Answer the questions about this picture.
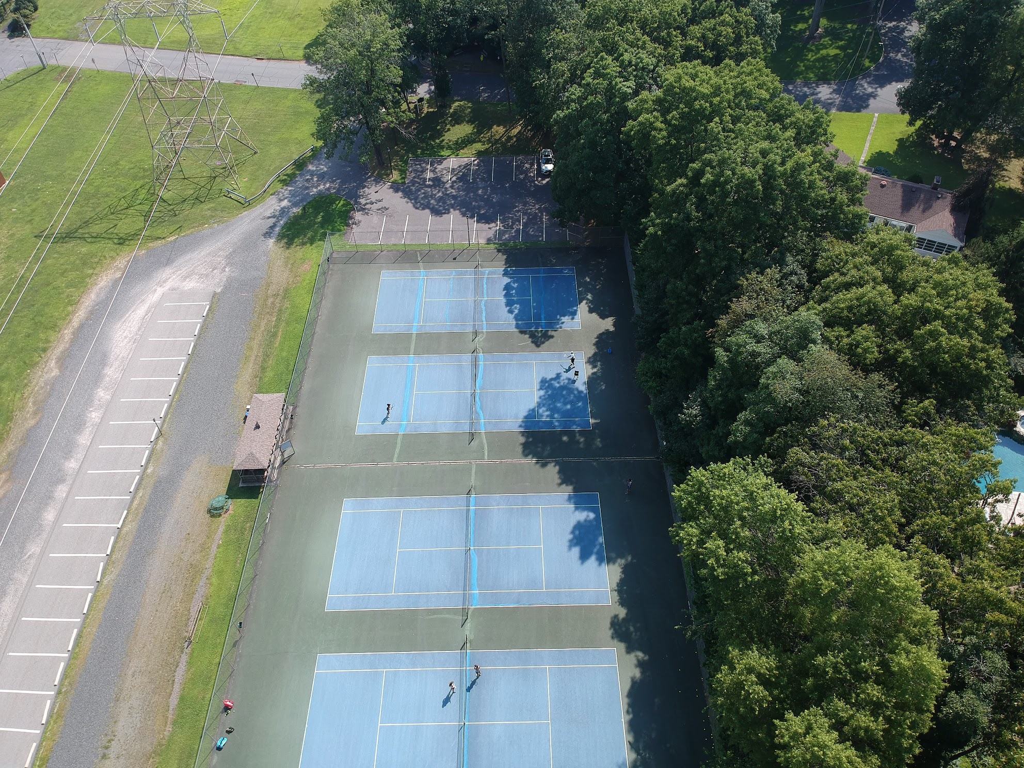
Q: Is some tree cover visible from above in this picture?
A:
Yes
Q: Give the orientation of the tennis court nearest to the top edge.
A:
from left to right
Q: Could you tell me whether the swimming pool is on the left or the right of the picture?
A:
right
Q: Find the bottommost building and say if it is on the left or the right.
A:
left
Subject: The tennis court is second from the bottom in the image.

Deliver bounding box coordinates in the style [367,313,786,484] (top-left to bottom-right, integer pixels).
[325,493,611,611]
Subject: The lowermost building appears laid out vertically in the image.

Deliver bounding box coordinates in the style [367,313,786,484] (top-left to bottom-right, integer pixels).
[231,393,289,484]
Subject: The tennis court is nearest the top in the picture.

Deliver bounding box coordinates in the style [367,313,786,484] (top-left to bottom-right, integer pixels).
[372,267,581,333]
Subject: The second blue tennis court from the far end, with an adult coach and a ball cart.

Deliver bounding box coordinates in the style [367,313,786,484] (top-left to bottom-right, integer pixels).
[355,351,592,434]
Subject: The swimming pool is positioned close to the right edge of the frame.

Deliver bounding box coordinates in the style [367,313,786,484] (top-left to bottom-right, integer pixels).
[956,408,1024,537]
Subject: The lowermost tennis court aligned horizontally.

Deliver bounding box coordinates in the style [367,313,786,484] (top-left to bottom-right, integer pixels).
[299,648,629,768]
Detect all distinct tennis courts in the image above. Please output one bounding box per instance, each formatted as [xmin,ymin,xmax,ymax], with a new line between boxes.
[372,267,581,333]
[355,351,592,434]
[299,648,629,768]
[325,493,611,611]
